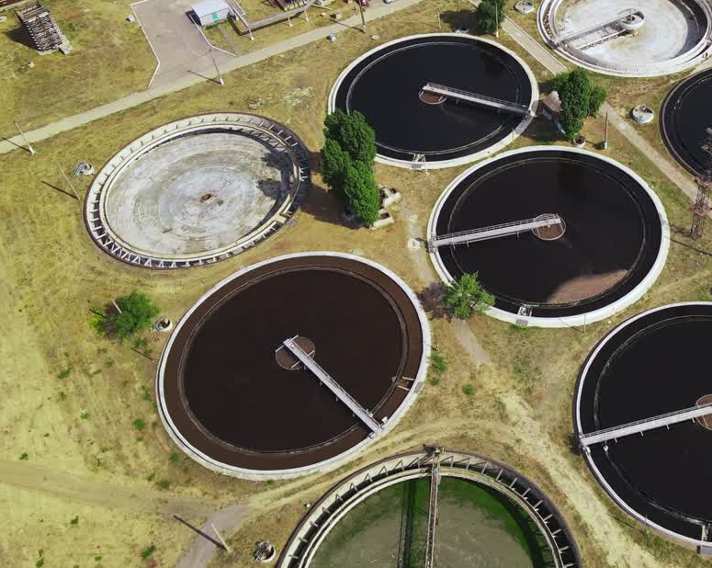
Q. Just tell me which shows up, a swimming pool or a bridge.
bridge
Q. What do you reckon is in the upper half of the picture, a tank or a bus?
tank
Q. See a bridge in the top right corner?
Yes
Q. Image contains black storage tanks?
Yes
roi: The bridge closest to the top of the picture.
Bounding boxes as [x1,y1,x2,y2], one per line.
[555,7,639,53]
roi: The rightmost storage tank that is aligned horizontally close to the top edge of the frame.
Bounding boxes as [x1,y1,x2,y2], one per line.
[537,0,712,81]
